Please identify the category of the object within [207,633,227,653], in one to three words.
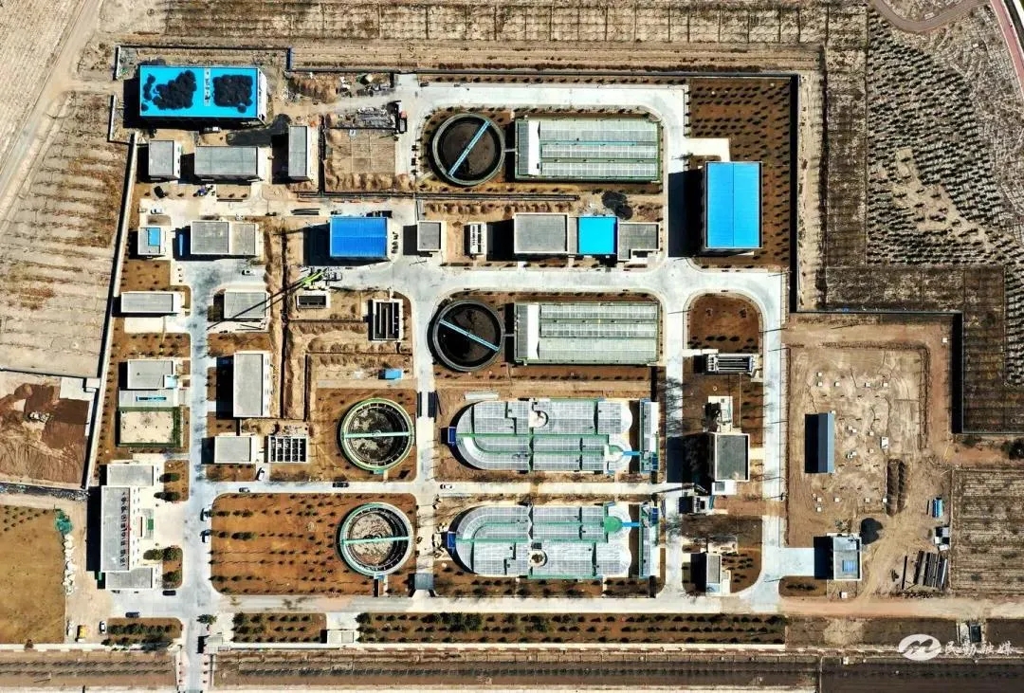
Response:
building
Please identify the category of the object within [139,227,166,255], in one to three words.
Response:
house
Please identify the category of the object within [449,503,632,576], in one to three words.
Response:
storage tank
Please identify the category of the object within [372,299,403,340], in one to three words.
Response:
storage tank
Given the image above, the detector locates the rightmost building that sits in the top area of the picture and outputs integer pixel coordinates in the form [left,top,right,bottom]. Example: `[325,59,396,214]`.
[700,161,762,251]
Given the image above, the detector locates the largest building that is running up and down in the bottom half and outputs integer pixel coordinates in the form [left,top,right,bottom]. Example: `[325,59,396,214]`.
[101,463,161,589]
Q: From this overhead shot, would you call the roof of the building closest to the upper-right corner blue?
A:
Yes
